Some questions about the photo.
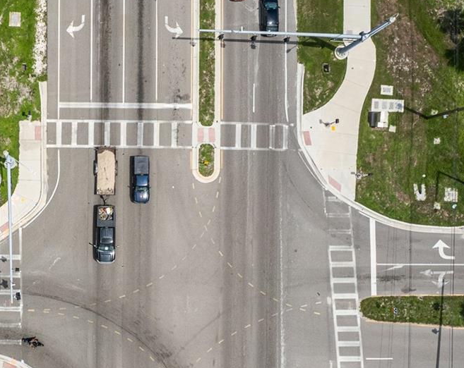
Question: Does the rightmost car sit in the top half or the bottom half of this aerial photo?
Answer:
top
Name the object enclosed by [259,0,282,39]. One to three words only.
car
